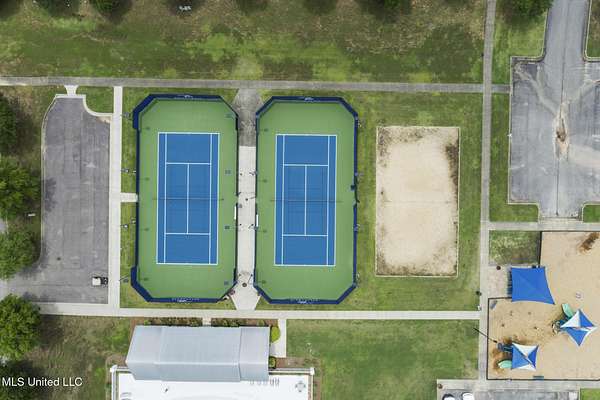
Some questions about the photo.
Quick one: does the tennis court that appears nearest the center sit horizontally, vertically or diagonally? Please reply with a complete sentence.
Seen from above, the tennis court that appears nearest the center lies vertically.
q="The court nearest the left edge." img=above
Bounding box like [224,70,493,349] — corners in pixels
[137,99,239,299]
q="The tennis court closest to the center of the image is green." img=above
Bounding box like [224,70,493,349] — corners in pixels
[256,101,355,300]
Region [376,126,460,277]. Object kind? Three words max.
sports court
